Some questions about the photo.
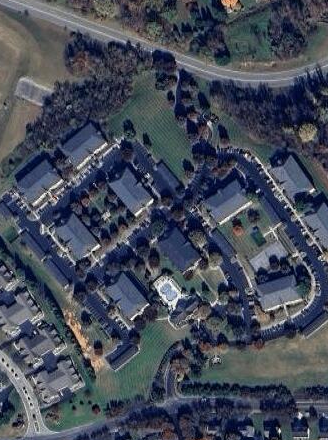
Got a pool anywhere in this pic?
Yes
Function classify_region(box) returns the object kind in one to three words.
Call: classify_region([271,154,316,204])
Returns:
building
